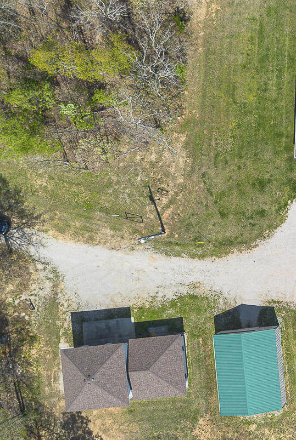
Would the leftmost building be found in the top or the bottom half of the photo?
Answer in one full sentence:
The bottom half of the photo is where the leftmost building is.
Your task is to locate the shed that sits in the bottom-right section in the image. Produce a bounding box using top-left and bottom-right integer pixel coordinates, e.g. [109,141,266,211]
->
[212,327,285,416]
